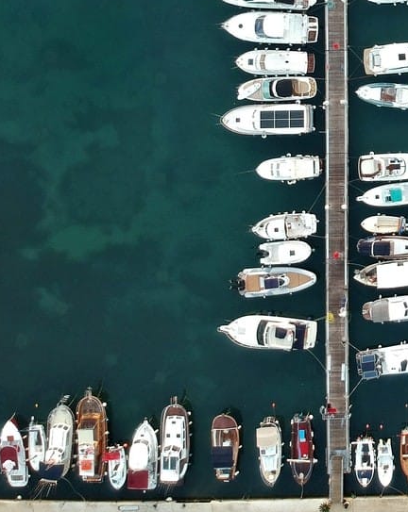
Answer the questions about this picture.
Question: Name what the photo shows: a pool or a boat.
boat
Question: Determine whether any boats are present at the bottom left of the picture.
Yes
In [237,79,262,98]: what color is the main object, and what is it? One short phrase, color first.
white boat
